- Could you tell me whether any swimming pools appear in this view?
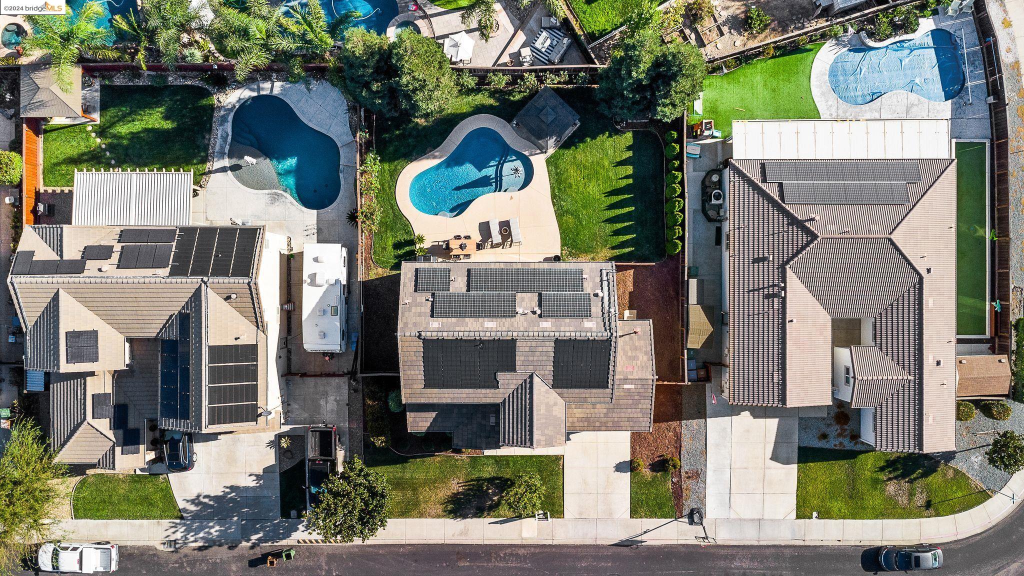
Yes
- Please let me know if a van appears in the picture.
Yes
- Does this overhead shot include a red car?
No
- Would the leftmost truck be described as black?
No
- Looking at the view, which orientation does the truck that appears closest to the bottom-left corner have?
from left to right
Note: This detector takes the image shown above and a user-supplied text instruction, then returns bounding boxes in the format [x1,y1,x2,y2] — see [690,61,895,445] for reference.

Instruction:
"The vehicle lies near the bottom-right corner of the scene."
[877,542,942,572]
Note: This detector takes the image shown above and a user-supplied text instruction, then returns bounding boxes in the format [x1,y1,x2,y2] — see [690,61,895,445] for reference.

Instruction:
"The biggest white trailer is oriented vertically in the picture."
[303,244,352,361]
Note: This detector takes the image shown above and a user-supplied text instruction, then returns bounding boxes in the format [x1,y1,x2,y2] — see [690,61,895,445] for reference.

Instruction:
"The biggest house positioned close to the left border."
[6,224,297,470]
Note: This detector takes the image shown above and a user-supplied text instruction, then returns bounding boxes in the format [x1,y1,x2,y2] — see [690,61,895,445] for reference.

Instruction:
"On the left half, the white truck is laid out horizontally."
[40,540,120,574]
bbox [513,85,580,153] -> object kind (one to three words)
gazebo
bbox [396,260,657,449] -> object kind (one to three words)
house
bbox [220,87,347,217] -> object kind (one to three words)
swimming pool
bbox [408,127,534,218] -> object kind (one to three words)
swimming pool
